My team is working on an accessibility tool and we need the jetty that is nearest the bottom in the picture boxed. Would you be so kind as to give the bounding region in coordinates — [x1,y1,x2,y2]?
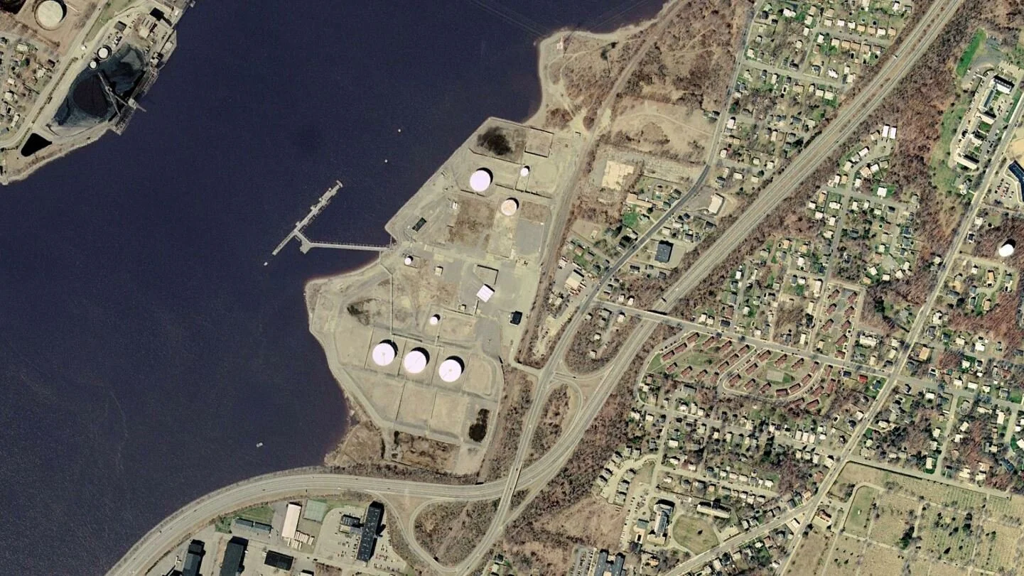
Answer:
[271,181,391,263]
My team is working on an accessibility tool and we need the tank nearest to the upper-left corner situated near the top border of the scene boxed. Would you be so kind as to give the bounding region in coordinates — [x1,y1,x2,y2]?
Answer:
[34,0,66,29]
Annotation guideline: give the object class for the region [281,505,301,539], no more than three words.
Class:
building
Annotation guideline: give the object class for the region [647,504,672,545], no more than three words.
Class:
building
